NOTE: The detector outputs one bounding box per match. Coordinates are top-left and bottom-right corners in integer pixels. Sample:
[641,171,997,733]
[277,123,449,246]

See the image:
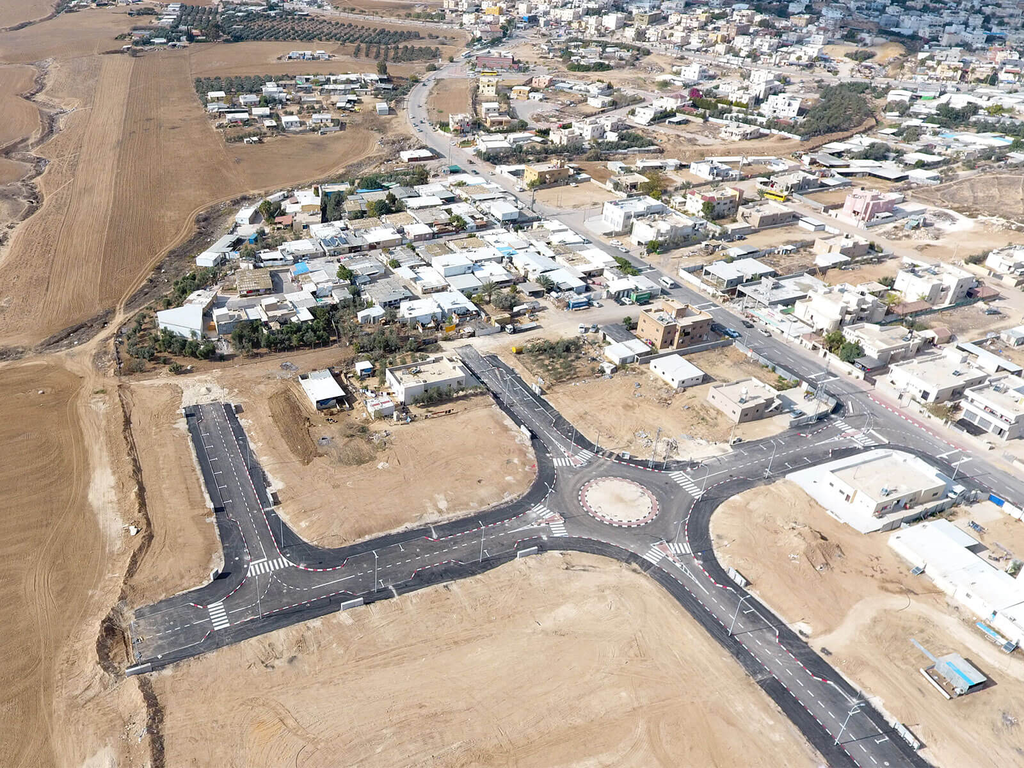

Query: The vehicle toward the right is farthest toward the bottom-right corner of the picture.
[947,483,969,497]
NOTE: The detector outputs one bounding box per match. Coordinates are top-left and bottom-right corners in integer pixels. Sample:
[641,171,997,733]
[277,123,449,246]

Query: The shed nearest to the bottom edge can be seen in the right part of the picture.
[932,654,987,693]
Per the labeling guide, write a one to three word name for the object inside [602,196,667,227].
building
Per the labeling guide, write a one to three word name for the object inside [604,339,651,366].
shed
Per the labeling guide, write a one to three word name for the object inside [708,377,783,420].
house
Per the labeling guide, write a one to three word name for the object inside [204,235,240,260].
barn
